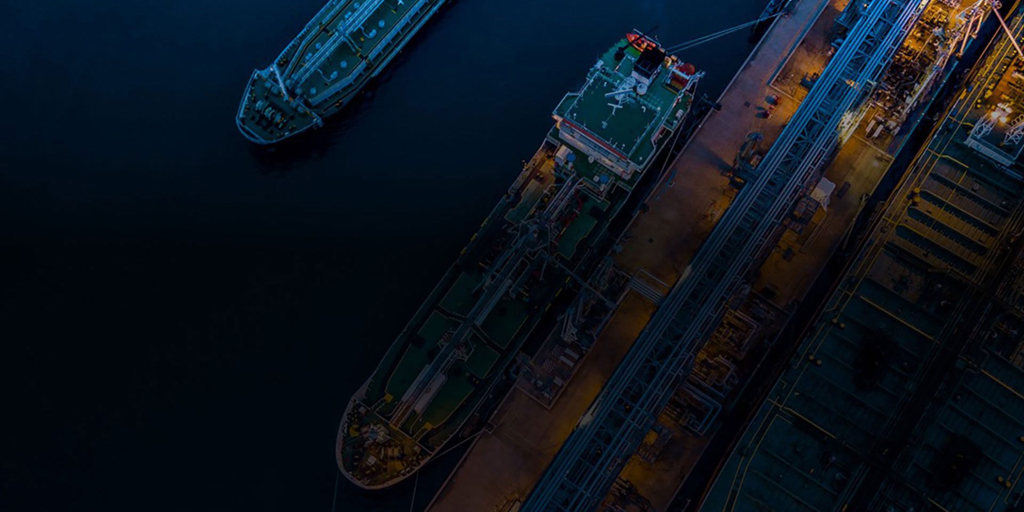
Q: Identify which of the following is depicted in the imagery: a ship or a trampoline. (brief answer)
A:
ship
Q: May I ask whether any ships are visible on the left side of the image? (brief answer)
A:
Yes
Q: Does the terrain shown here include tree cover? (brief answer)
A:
No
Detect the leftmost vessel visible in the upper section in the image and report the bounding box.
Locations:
[237,0,477,148]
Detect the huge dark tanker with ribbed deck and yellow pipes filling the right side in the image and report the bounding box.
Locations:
[685,0,1024,512]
